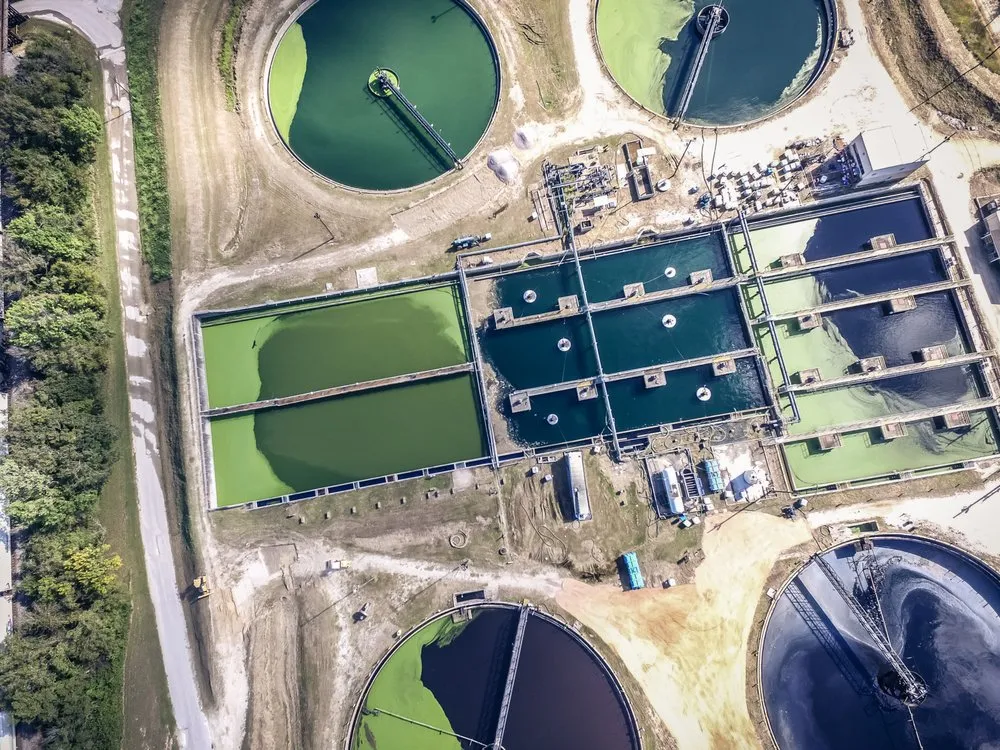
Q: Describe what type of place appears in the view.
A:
industrial area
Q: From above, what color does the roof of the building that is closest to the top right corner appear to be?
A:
white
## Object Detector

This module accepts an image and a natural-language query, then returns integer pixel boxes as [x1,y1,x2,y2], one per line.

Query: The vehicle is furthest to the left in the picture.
[192,578,211,600]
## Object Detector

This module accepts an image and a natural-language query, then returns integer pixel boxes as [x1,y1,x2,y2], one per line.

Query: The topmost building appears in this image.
[847,122,930,184]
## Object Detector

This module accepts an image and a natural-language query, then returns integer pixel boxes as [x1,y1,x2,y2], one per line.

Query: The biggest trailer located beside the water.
[567,451,593,520]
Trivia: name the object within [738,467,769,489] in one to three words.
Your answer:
silo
